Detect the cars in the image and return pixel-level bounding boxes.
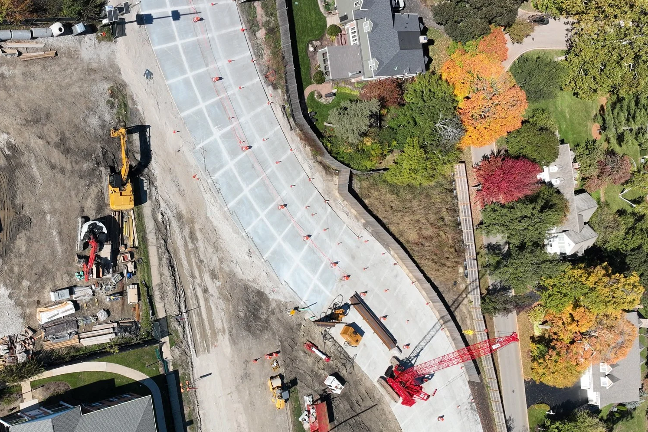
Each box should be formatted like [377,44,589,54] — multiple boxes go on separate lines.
[537,14,548,26]
[391,0,411,12]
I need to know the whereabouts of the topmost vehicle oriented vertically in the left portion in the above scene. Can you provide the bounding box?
[103,126,134,211]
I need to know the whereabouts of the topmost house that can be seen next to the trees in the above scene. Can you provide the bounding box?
[316,0,427,83]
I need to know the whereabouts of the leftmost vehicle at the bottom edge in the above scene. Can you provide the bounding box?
[271,376,293,411]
